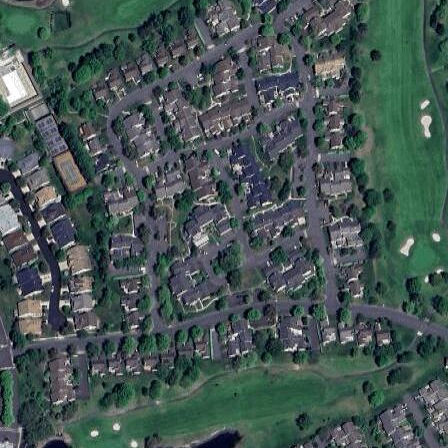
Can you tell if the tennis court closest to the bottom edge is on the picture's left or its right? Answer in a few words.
left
